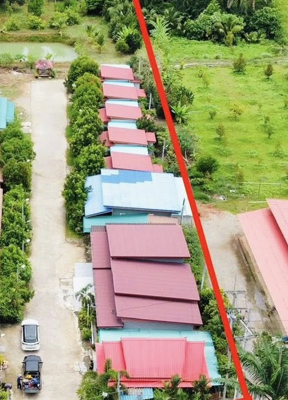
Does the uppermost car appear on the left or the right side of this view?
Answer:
left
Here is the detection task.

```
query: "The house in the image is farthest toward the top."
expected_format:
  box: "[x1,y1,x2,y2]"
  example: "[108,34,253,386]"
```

[96,63,133,92]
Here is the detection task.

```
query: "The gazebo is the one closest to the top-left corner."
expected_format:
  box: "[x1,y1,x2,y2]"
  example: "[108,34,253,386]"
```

[34,54,56,78]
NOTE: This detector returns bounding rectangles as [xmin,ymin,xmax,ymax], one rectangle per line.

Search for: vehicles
[21,355,44,399]
[20,322,40,354]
